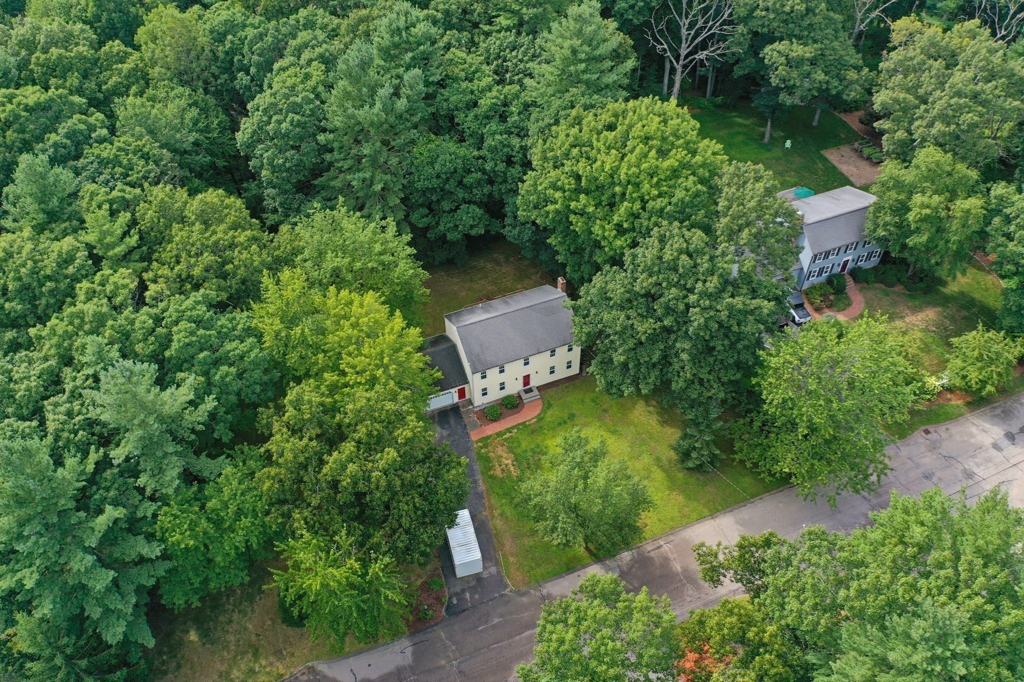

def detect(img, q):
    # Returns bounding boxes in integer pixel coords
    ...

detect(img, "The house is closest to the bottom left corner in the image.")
[420,276,581,412]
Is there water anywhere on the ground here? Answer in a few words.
No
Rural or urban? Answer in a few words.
rural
